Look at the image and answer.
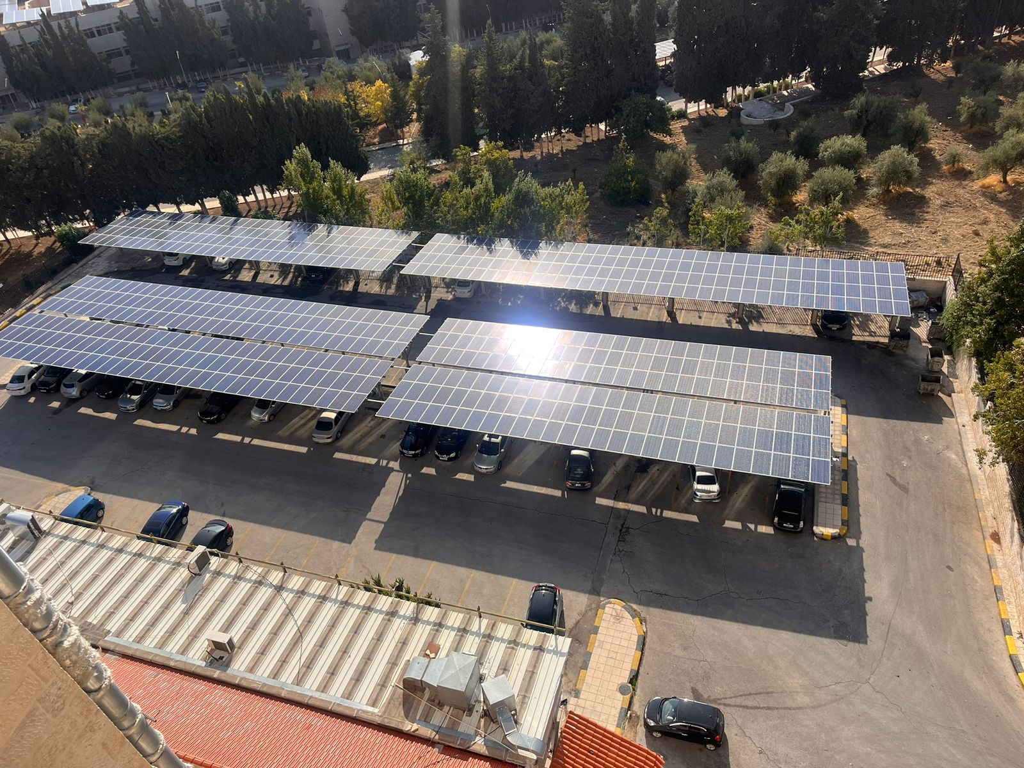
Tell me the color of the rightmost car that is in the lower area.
black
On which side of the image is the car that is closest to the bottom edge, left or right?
right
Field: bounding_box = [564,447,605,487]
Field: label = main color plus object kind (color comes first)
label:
black car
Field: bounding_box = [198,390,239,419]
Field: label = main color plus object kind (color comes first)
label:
black car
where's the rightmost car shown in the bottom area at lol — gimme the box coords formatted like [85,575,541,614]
[772,478,812,528]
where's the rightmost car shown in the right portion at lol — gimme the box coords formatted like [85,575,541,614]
[821,309,848,327]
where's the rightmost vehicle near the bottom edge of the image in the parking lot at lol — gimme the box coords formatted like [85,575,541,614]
[643,686,729,747]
